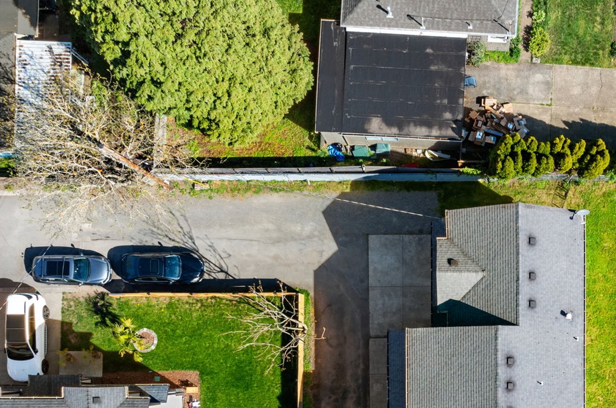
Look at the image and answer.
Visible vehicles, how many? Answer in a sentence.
In total, 3 vehicles can be seen.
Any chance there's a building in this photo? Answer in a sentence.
Yes, you can see a building in this photo.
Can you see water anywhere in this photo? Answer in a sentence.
No, there is no water in the image.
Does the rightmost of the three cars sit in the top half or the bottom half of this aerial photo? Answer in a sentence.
The bottom half of the photo is where the rightmost of the three cars is.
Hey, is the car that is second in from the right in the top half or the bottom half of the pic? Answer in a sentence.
The car that is second in from the right is in the bottom half of the image.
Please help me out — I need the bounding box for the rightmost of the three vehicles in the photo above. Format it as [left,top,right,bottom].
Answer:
[121,247,207,288]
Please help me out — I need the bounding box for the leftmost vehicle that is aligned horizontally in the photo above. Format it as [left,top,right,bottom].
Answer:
[30,248,114,288]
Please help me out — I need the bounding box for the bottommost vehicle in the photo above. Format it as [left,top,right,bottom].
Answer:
[2,295,51,381]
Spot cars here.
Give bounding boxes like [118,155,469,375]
[2,295,51,381]
[30,248,114,288]
[121,247,207,288]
